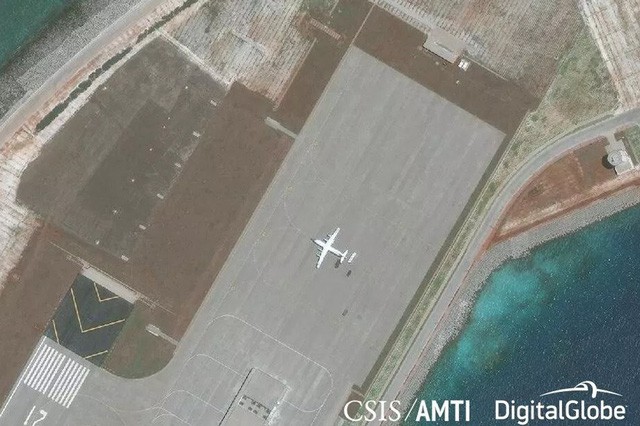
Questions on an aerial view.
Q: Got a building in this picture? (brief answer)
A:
Yes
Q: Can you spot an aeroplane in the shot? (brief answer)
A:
Yes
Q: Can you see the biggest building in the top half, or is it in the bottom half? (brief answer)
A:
top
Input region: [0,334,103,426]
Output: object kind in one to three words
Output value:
runway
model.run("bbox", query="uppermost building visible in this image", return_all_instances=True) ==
[424,27,464,62]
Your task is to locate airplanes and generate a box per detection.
[311,227,348,267]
